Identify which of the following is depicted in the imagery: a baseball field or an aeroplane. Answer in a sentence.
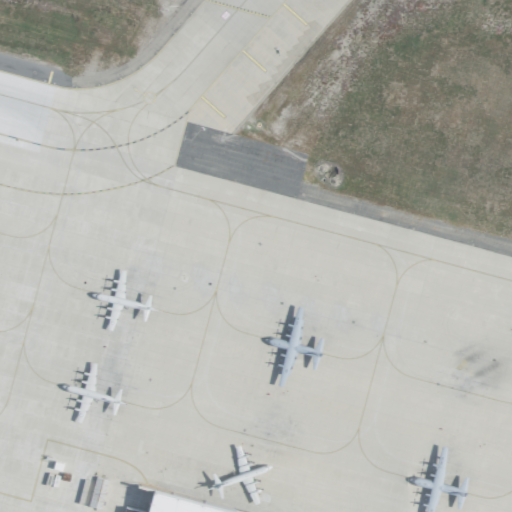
It is an aeroplane that can be seen here.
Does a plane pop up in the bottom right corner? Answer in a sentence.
Yes, in the bottom right corner there is a plane.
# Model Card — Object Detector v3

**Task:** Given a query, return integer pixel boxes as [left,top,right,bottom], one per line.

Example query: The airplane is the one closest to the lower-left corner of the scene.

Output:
[62,363,128,424]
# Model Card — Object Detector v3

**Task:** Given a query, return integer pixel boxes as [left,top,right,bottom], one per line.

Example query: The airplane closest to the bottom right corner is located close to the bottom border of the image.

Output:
[410,447,470,512]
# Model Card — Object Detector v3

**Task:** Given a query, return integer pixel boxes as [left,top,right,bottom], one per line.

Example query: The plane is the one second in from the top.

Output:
[266,306,326,386]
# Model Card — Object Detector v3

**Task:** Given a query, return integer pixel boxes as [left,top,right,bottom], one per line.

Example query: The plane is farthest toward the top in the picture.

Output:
[92,270,158,330]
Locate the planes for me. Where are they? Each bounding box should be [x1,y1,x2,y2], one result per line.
[92,270,158,330]
[410,447,470,512]
[62,363,128,424]
[210,446,274,506]
[266,306,326,386]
